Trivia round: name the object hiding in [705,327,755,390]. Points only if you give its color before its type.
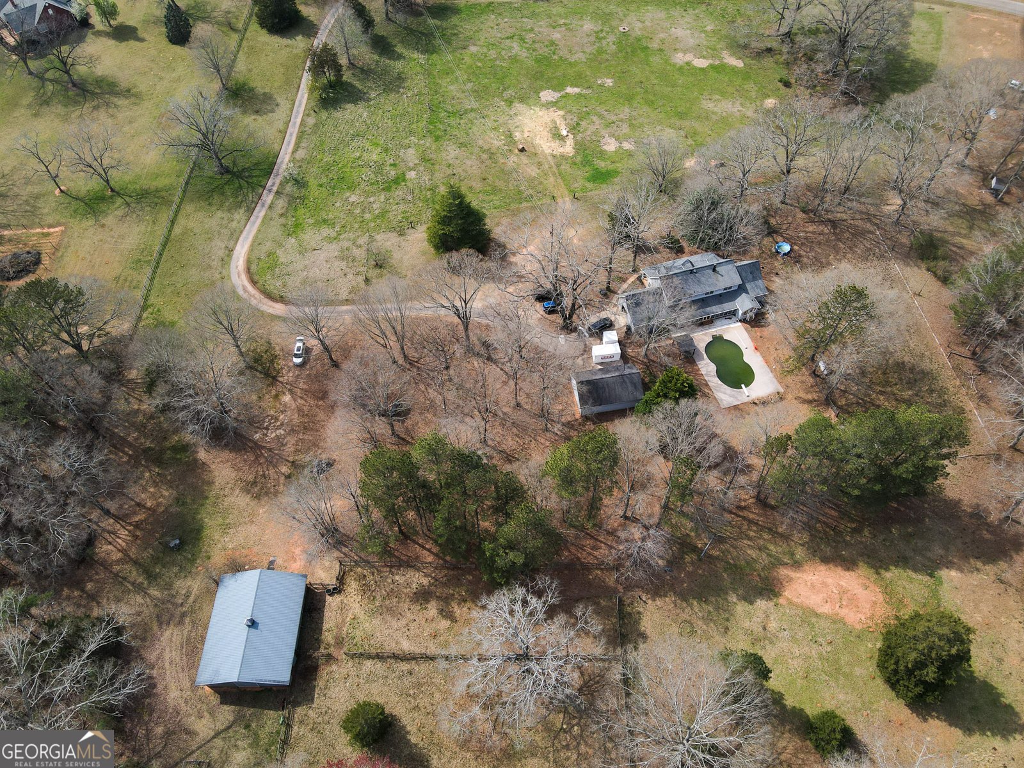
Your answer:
green swimming pool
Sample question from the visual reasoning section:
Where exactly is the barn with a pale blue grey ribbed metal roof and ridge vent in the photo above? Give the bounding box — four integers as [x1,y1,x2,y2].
[193,570,309,687]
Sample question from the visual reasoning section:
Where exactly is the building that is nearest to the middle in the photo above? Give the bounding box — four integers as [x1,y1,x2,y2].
[573,367,642,414]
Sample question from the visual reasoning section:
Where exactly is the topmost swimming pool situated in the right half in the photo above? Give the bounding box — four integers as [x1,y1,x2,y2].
[775,241,792,257]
